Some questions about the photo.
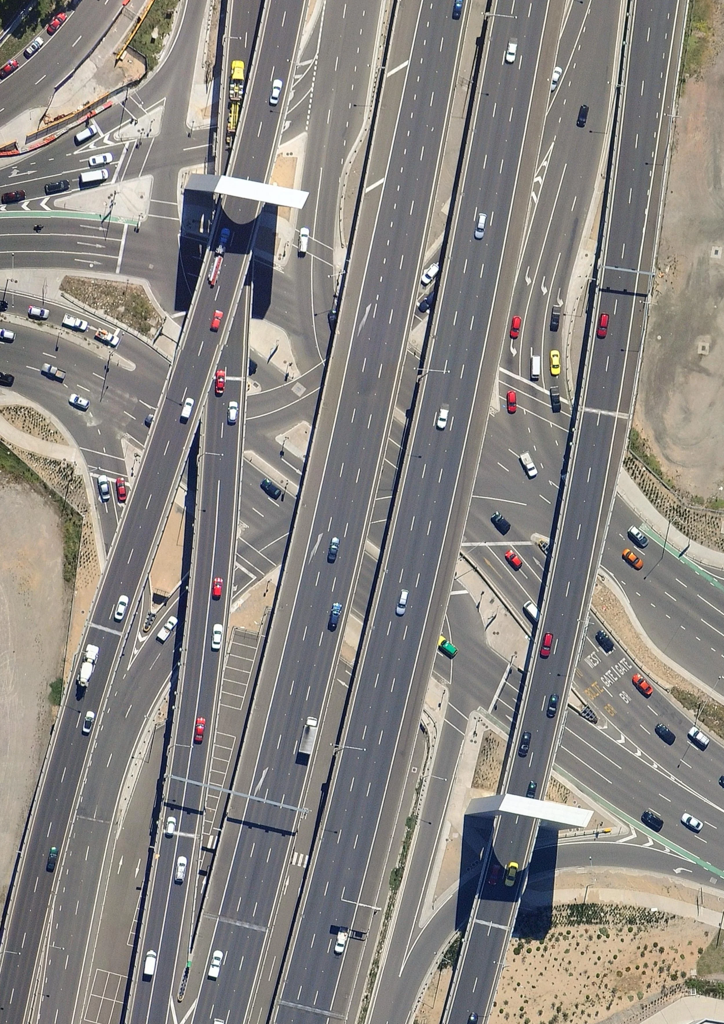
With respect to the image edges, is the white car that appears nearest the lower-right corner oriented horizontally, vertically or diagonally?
diagonally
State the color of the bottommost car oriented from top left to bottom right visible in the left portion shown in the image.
black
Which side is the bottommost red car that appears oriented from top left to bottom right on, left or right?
right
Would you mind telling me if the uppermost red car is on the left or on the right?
left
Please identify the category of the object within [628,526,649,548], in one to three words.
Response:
car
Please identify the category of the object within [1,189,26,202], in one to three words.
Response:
vehicle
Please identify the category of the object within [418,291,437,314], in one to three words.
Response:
car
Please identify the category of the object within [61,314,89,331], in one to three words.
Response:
vehicle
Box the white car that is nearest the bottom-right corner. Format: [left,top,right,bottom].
[681,813,703,834]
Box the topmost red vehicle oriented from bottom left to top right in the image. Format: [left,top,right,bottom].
[46,12,68,35]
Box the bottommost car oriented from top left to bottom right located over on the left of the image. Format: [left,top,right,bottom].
[260,478,282,499]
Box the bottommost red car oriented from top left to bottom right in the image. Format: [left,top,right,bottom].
[632,673,653,697]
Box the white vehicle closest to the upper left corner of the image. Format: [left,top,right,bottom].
[23,36,45,59]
